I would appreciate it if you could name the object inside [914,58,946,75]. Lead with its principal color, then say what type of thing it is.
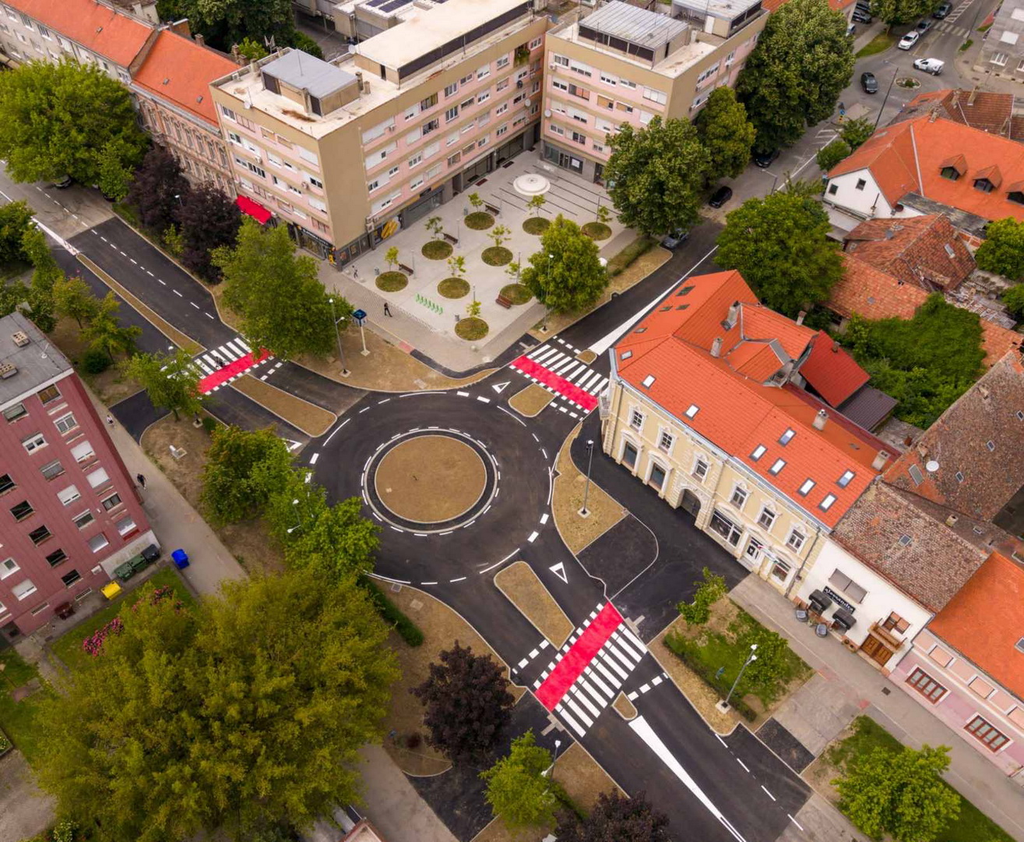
white car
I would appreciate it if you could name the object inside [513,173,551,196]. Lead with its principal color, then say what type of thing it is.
white fountain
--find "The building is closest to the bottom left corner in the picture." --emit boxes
[0,295,162,666]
